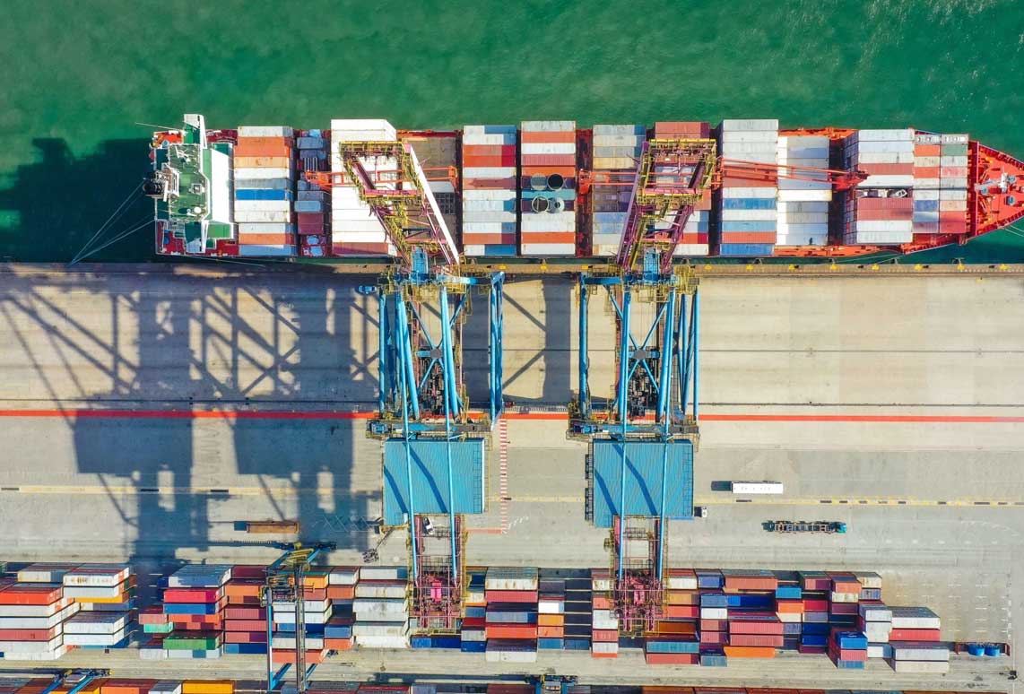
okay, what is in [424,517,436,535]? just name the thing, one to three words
vehicle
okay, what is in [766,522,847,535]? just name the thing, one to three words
vehicle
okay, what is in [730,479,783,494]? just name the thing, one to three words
trailer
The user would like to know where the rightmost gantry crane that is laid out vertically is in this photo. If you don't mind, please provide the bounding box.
[554,138,720,633]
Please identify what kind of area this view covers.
port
